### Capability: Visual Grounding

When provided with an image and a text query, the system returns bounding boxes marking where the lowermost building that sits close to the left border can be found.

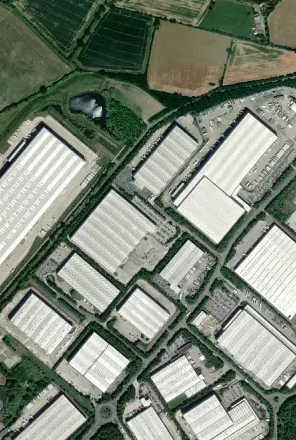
[14,395,87,440]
